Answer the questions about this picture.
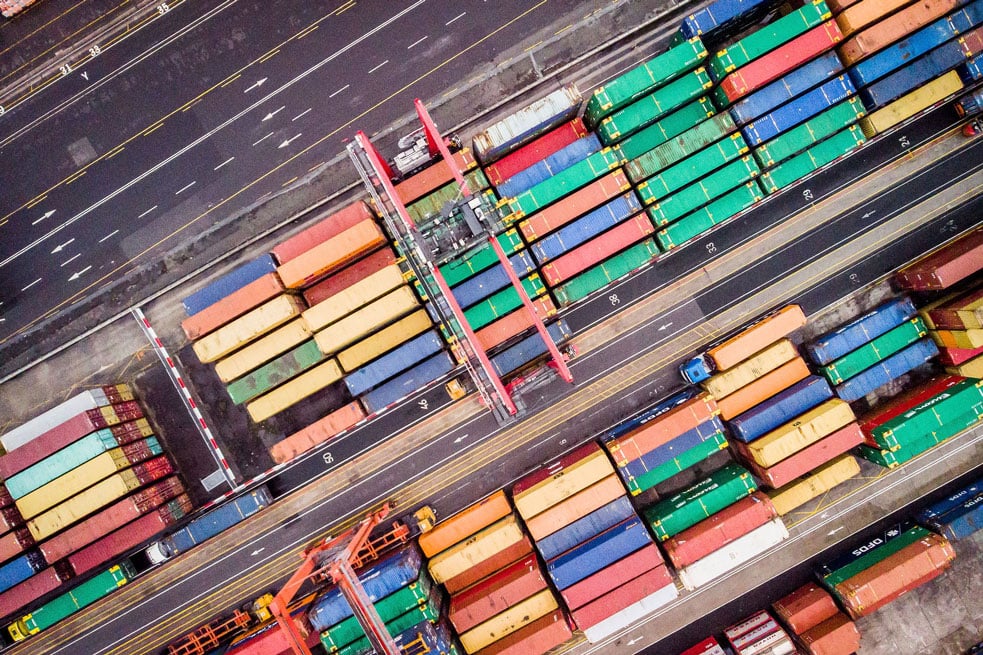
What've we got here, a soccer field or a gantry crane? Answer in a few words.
gantry crane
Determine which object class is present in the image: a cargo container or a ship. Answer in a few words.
cargo container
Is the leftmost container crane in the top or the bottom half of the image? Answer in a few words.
bottom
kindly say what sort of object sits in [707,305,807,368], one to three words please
shipping container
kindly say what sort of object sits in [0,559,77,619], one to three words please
shipping container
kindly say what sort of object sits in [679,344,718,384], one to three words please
truck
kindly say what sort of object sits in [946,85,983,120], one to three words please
truck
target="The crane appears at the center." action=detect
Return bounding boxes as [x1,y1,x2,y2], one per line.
[338,95,587,427]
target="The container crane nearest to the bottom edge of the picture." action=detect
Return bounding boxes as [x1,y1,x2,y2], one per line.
[270,494,447,655]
